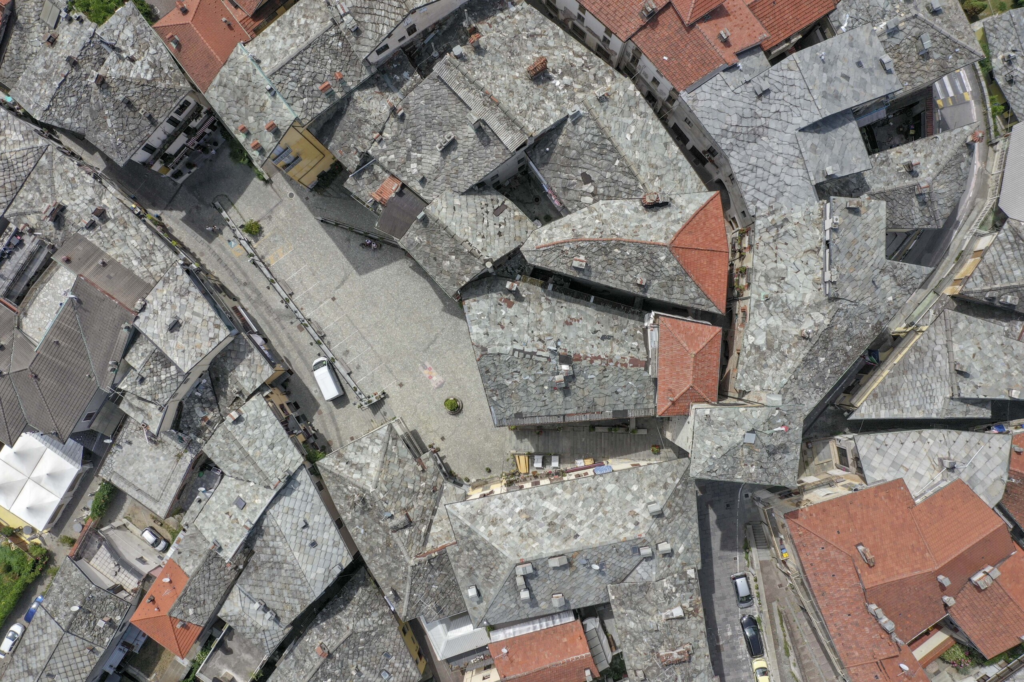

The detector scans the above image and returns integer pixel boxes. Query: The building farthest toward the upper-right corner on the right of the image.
[974,6,1024,130]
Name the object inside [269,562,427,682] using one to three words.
house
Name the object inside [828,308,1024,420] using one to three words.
house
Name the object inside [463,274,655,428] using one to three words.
church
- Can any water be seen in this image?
No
